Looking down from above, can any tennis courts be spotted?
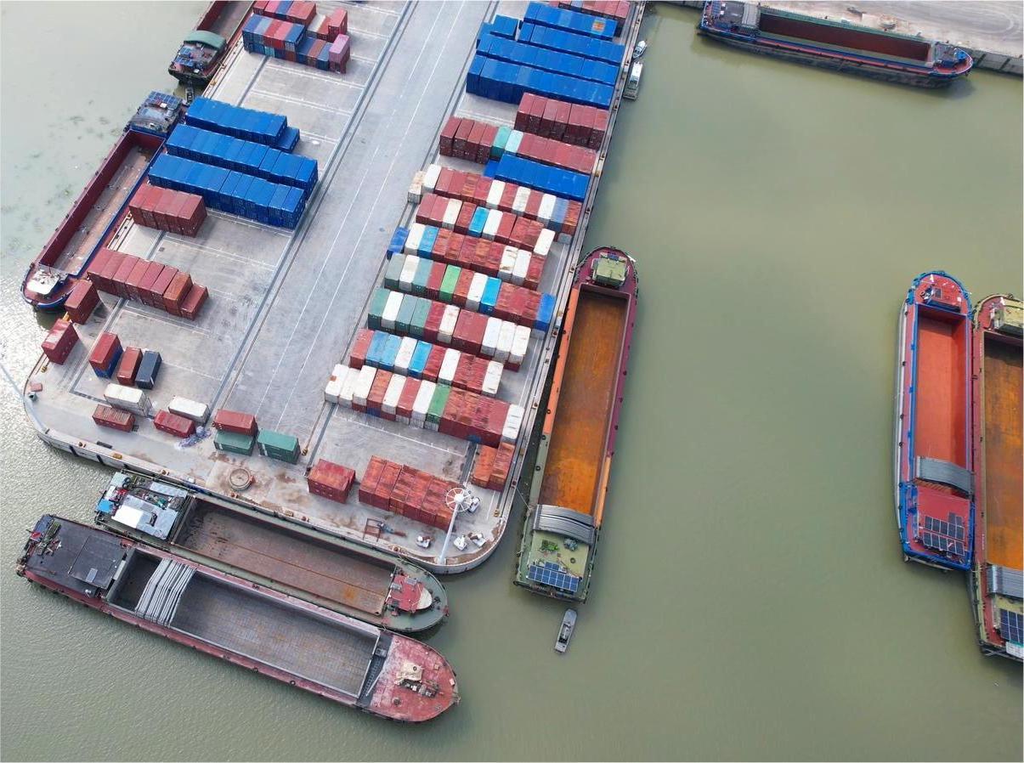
No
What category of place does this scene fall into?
port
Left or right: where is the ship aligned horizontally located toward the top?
right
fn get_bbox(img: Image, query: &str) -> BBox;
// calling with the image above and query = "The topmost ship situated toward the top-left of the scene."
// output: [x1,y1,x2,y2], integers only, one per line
[167,0,258,86]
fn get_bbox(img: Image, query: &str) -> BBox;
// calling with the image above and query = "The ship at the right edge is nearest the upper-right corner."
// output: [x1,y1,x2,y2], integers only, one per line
[703,0,979,90]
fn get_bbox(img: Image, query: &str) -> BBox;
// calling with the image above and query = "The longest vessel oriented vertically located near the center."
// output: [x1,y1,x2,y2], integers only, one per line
[516,245,638,601]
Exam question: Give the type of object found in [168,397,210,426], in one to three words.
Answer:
shipping container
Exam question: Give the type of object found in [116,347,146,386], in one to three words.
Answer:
shipping container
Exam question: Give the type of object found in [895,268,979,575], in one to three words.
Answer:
ship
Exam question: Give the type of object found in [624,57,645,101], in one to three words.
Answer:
boat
